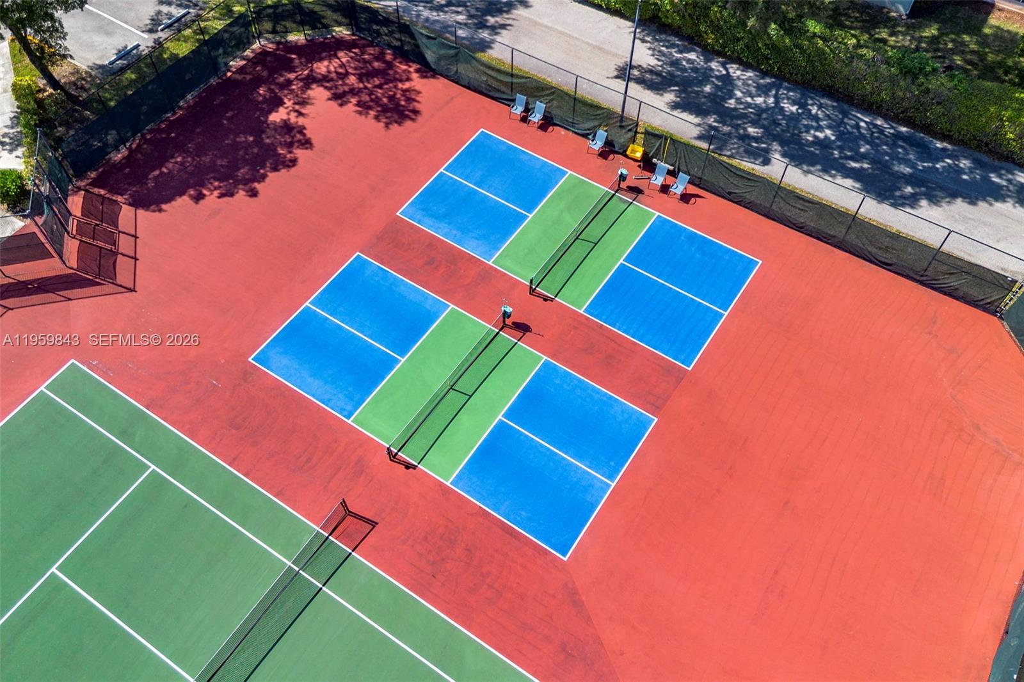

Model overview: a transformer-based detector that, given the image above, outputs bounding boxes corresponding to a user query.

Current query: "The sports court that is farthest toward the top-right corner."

[397,129,761,369]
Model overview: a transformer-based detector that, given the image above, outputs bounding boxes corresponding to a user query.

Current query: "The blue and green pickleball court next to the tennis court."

[249,253,657,560]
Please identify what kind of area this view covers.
sports ground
